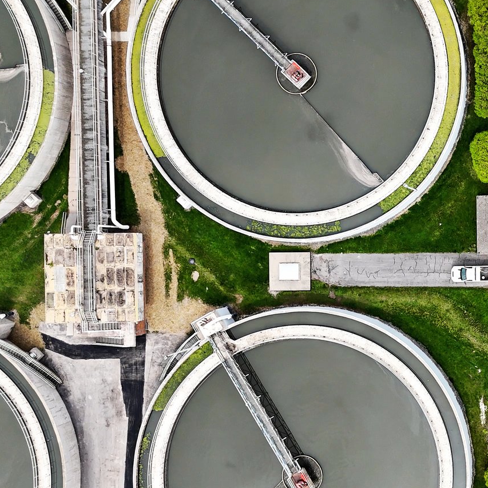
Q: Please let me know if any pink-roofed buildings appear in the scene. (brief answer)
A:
No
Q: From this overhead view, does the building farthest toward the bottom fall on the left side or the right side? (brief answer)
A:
left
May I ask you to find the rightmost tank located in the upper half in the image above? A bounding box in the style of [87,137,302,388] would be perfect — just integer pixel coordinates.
[130,0,469,246]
